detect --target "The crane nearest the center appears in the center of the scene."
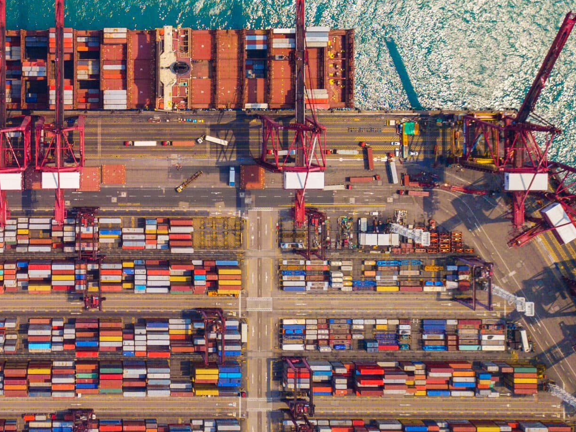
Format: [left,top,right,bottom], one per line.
[292,207,325,265]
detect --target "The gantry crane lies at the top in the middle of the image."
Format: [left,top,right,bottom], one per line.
[255,0,327,233]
